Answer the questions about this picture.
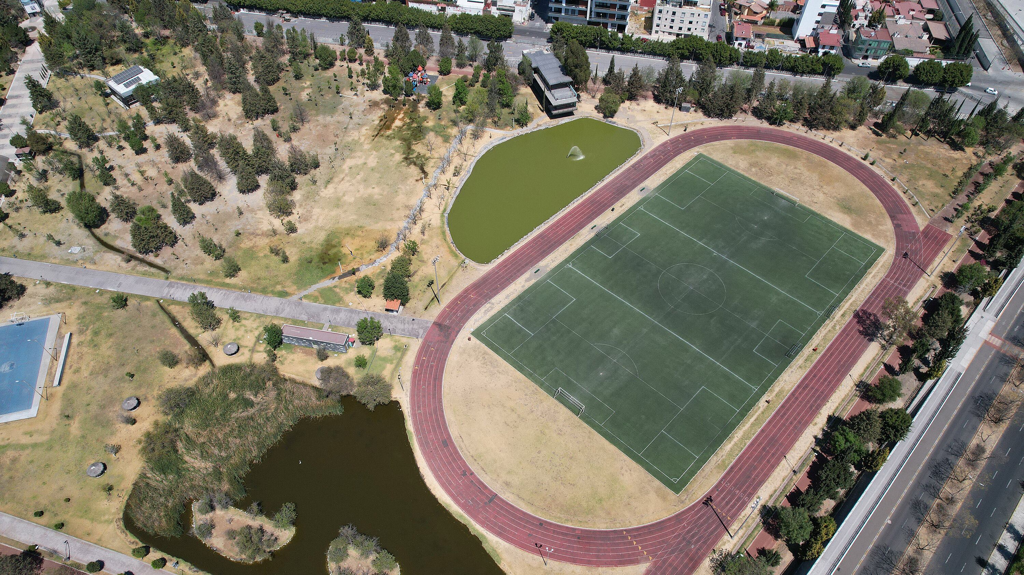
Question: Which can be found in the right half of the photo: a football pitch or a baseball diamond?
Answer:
football pitch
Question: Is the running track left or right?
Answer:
right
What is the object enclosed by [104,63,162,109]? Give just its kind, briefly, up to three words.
building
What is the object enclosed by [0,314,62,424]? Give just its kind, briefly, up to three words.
sports court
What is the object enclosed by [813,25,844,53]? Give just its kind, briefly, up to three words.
house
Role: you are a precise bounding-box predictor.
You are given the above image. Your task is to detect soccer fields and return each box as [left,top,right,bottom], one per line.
[469,152,887,497]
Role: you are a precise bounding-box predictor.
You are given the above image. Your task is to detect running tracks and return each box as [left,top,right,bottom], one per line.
[409,126,954,575]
